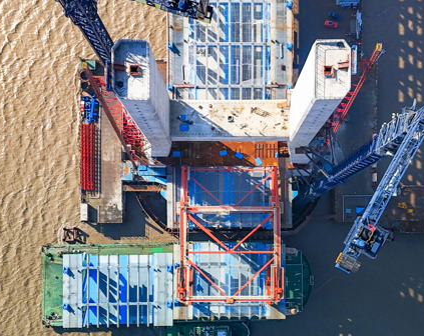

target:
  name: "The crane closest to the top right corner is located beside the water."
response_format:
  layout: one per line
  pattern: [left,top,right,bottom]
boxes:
[325,42,384,141]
